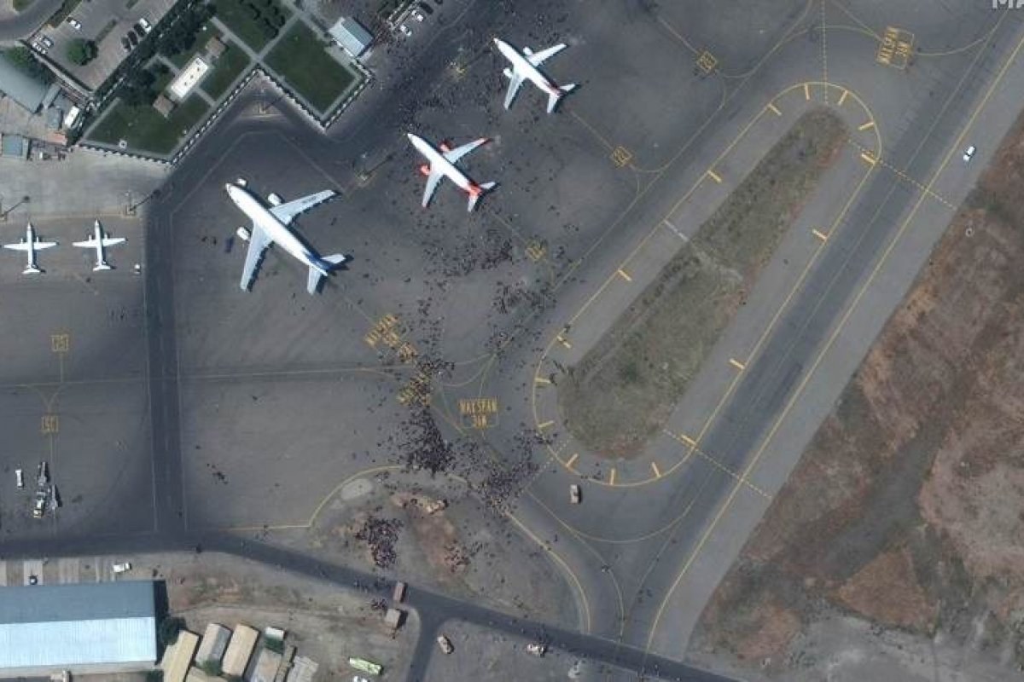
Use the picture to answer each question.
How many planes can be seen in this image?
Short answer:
5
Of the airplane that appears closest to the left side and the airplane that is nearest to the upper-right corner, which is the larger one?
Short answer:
the airplane that is nearest to the upper-right corner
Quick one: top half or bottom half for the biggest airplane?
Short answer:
top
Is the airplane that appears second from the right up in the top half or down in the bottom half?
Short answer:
top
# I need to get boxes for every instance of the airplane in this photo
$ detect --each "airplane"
[226,184,346,293]
[408,134,496,210]
[72,220,125,269]
[494,38,576,112]
[4,222,56,272]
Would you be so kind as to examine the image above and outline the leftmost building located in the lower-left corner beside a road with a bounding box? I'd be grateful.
[0,581,157,682]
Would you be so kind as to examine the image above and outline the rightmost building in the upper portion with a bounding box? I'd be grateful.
[330,15,373,60]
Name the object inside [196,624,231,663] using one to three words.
shed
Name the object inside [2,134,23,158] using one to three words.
building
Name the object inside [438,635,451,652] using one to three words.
vehicle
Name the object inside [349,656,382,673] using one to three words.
vehicle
